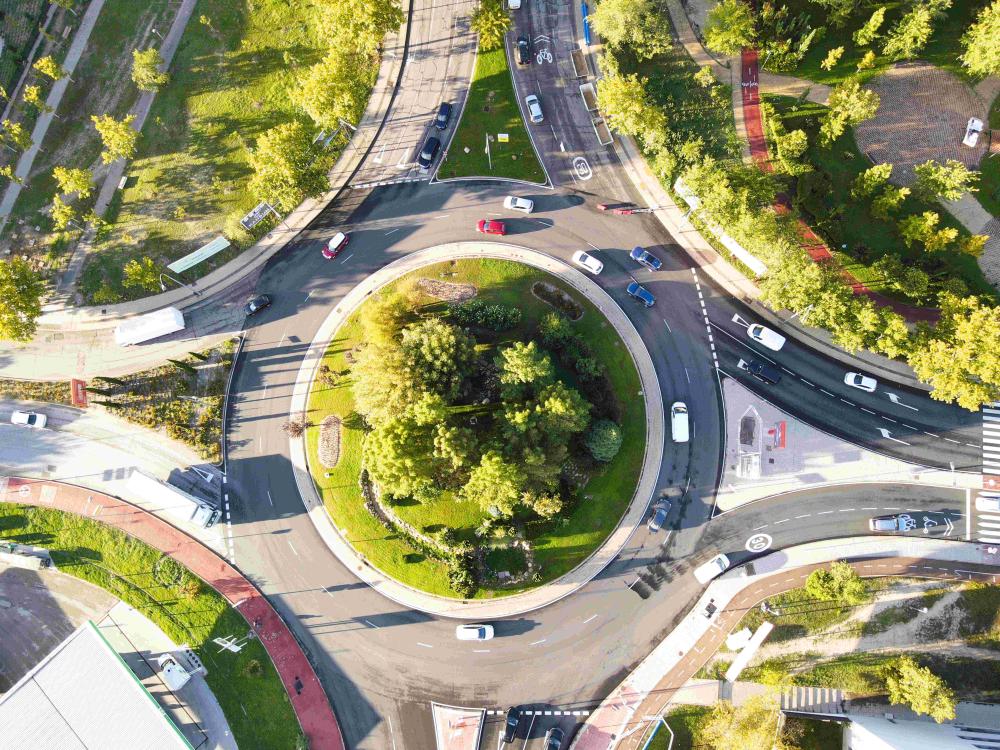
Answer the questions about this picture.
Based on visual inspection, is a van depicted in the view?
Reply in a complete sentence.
Yes, there's a van down there.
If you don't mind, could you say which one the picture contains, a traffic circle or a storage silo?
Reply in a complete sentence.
This aerial view contains a traffic circle.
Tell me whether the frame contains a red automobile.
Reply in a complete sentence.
Yes, a red automobile appears in the view.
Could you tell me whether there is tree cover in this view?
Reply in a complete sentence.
Yes, the picture does contain tree cover.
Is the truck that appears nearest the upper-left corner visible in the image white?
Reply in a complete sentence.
Yes, the truck that appears nearest the upper-left corner appears white.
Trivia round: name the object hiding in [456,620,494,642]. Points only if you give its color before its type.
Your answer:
white car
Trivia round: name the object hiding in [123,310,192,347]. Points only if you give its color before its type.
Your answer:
white truck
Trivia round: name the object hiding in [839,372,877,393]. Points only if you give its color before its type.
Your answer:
white car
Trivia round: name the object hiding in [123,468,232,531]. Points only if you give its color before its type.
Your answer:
white truck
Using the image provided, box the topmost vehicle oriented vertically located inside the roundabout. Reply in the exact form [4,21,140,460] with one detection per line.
[669,400,689,442]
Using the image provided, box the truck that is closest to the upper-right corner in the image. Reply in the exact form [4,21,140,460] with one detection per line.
[956,117,985,150]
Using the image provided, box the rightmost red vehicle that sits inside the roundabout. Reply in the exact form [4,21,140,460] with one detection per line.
[475,220,508,237]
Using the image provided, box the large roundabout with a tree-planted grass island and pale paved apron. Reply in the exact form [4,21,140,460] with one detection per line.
[222,179,725,713]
